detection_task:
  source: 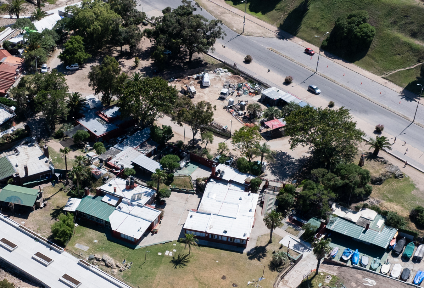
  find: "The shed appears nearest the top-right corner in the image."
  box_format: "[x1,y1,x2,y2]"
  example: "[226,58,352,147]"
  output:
[261,86,303,108]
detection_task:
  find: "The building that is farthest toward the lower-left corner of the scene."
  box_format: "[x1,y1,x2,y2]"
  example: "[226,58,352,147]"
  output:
[0,186,49,217]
